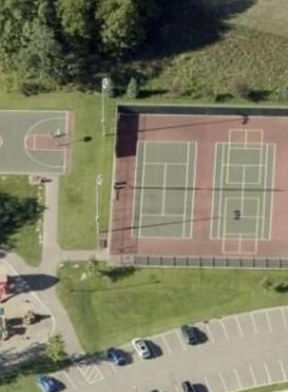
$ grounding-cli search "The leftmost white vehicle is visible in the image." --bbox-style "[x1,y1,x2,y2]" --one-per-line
[132,339,151,361]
